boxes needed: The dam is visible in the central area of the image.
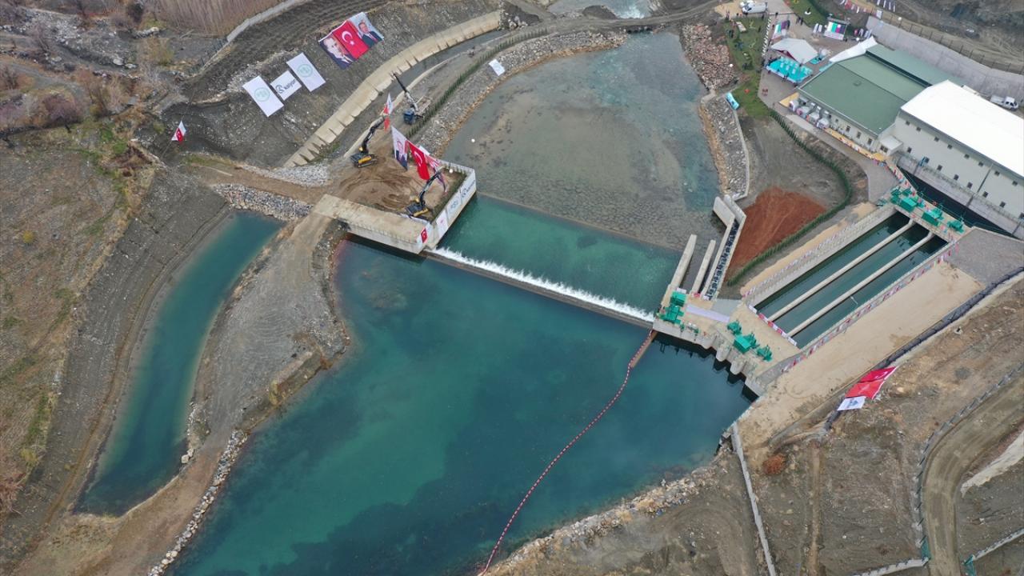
[421,248,654,328]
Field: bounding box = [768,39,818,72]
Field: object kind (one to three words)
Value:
tent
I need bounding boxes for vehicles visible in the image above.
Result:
[990,93,1023,111]
[394,74,437,119]
[740,0,771,12]
[405,164,451,219]
[356,117,394,168]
